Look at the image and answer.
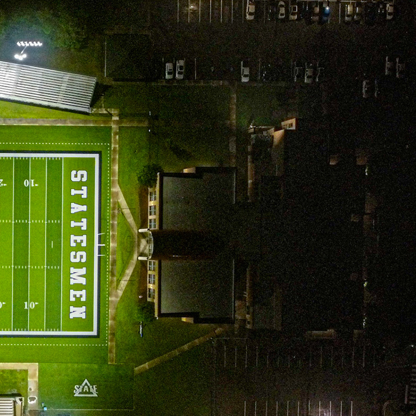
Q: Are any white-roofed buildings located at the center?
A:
No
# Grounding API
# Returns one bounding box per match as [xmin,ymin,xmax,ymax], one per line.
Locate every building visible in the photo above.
[243,119,371,340]
[136,166,235,324]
